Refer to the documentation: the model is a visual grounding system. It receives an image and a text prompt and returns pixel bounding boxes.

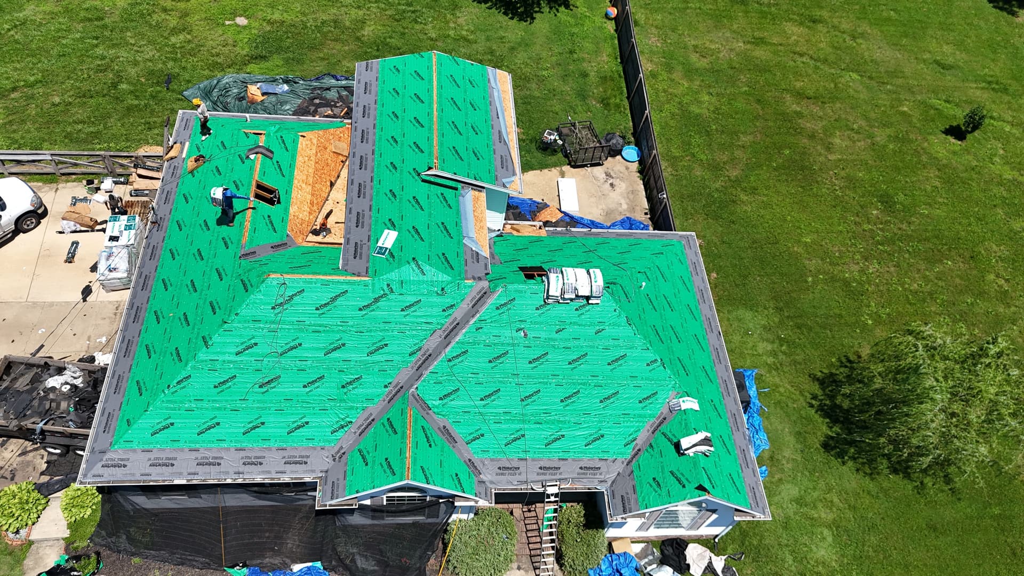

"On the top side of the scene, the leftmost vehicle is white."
[0,185,49,238]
